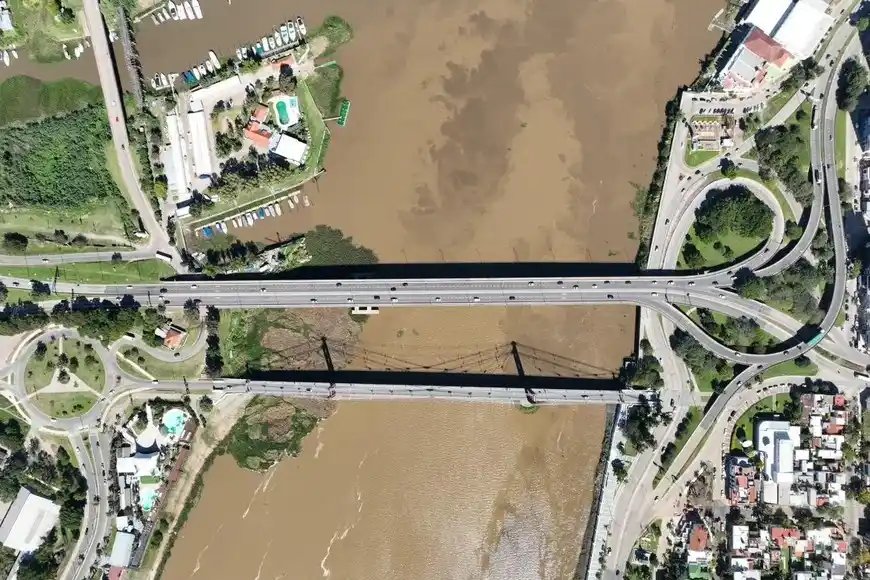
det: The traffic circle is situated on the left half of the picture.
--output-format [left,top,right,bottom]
[14,326,116,428]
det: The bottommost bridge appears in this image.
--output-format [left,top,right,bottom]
[240,374,650,406]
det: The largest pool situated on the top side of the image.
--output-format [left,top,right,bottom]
[274,96,299,128]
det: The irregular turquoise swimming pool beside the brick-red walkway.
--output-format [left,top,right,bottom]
[139,484,162,511]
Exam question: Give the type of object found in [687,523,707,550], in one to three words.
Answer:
house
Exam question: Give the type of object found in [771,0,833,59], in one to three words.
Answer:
building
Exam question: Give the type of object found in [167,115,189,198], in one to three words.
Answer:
shed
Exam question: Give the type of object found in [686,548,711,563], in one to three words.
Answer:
house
